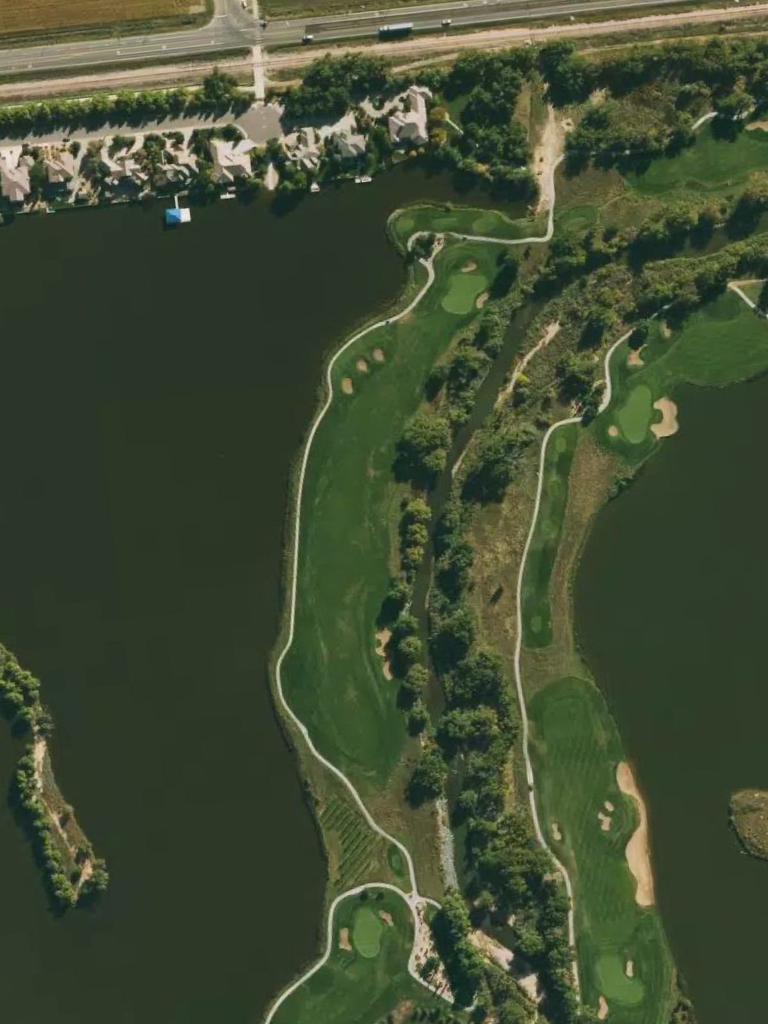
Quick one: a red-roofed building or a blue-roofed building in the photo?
blue-roofed building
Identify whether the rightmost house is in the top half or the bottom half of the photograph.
top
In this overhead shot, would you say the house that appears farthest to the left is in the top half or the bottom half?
top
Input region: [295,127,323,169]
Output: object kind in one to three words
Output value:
house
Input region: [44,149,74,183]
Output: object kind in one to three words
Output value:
house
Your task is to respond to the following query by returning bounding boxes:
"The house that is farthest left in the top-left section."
[0,154,33,201]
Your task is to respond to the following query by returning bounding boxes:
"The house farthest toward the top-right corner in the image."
[388,86,428,144]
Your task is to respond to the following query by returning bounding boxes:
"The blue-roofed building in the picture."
[165,207,191,225]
